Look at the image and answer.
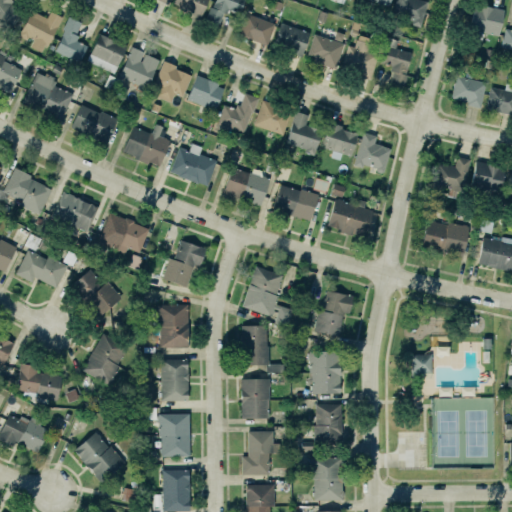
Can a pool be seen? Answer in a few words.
Yes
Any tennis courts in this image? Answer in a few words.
Yes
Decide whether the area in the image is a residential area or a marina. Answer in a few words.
residential area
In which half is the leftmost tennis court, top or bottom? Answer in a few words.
bottom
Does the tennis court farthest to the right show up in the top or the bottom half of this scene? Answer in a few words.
bottom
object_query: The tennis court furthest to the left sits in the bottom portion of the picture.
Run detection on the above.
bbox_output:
[433,398,464,468]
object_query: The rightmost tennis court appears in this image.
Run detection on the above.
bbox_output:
[464,398,494,468]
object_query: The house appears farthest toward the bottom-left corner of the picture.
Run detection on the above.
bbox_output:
[0,412,48,454]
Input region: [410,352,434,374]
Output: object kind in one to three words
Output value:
building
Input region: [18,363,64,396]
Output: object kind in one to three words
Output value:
house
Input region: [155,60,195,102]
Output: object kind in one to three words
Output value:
house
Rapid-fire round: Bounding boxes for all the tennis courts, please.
[433,398,464,468]
[464,398,494,468]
